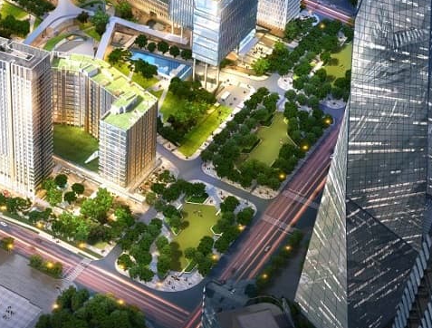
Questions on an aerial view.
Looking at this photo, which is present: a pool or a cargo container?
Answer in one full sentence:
The one in the frame is a pool.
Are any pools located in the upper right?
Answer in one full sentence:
No, there is no pool in the upper right.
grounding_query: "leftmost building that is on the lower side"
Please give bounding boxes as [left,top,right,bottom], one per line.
[203,274,293,328]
